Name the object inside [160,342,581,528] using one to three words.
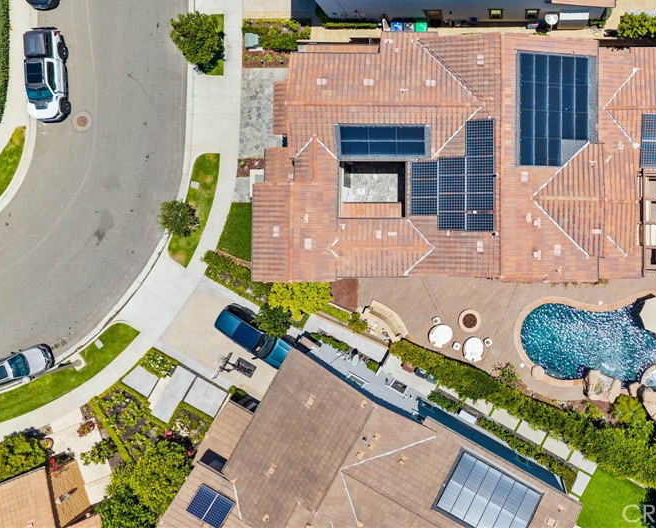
house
